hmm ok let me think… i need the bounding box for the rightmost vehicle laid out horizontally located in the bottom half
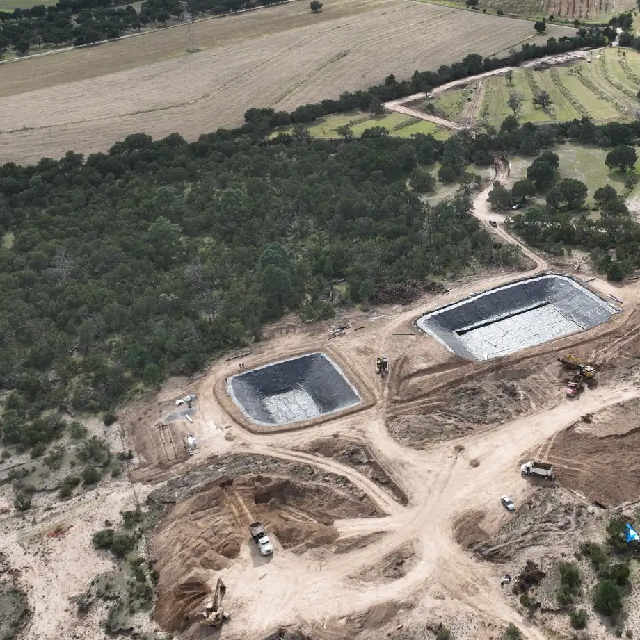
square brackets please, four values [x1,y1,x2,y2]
[518,461,555,480]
